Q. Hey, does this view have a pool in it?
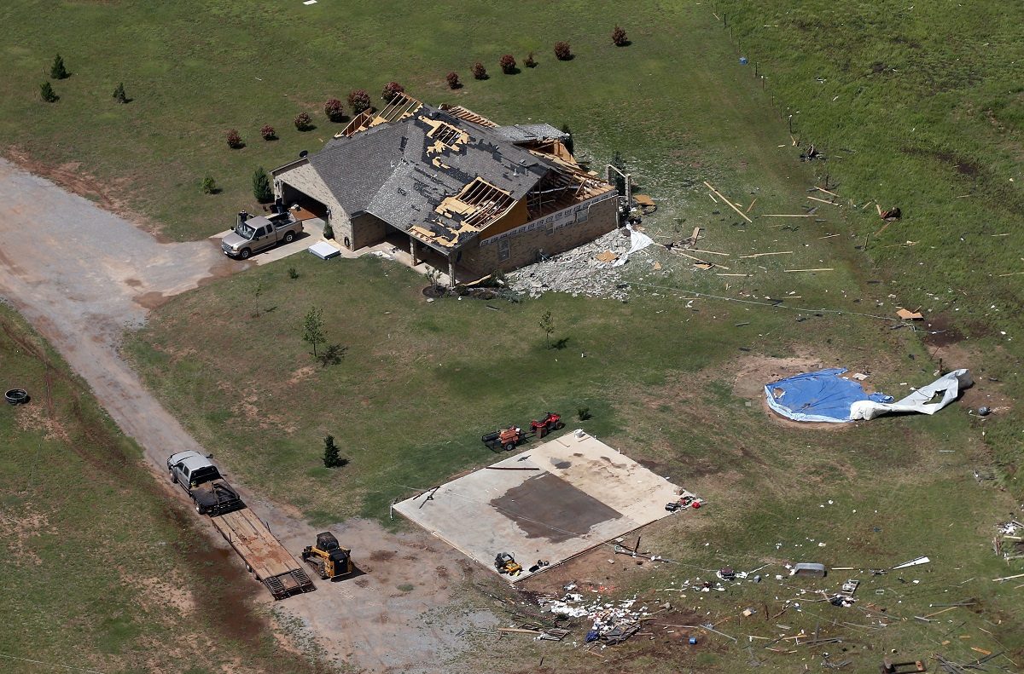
Yes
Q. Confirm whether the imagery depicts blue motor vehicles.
No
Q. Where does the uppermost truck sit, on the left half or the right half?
left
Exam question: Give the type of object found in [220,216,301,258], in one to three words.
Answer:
truck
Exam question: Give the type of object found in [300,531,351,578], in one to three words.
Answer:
work vehicle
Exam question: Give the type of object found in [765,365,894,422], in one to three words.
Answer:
swimming pool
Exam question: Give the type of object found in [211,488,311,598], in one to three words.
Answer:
trailer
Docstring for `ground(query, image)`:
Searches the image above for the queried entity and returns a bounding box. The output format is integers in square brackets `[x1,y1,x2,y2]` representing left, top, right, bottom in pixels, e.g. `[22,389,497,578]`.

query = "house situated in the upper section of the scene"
[266,91,620,286]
